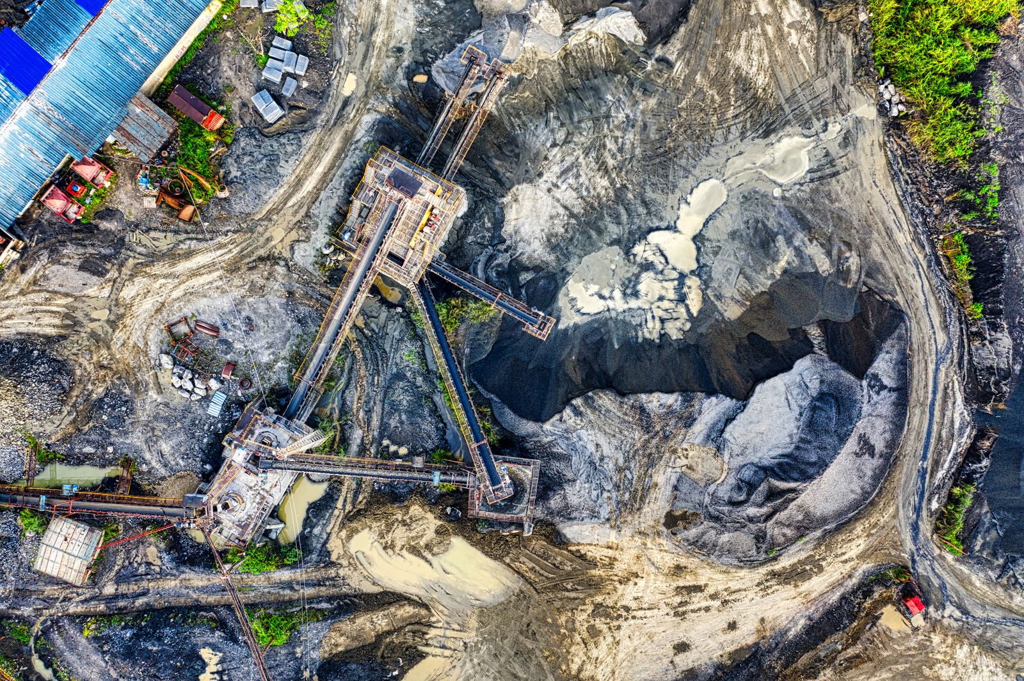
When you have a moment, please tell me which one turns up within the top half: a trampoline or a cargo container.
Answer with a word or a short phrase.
cargo container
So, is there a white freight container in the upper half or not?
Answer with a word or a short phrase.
No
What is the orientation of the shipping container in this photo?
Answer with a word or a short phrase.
on a diagonal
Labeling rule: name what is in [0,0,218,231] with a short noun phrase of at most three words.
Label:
warehouse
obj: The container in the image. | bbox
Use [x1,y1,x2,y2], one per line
[167,84,231,135]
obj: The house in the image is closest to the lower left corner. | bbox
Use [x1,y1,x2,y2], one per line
[34,517,112,587]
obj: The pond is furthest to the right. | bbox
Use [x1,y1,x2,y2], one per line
[278,475,329,547]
